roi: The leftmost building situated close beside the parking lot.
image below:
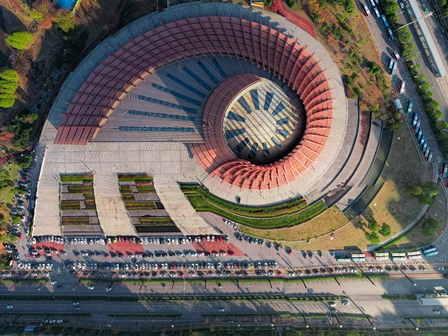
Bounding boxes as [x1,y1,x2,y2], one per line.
[32,3,383,238]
